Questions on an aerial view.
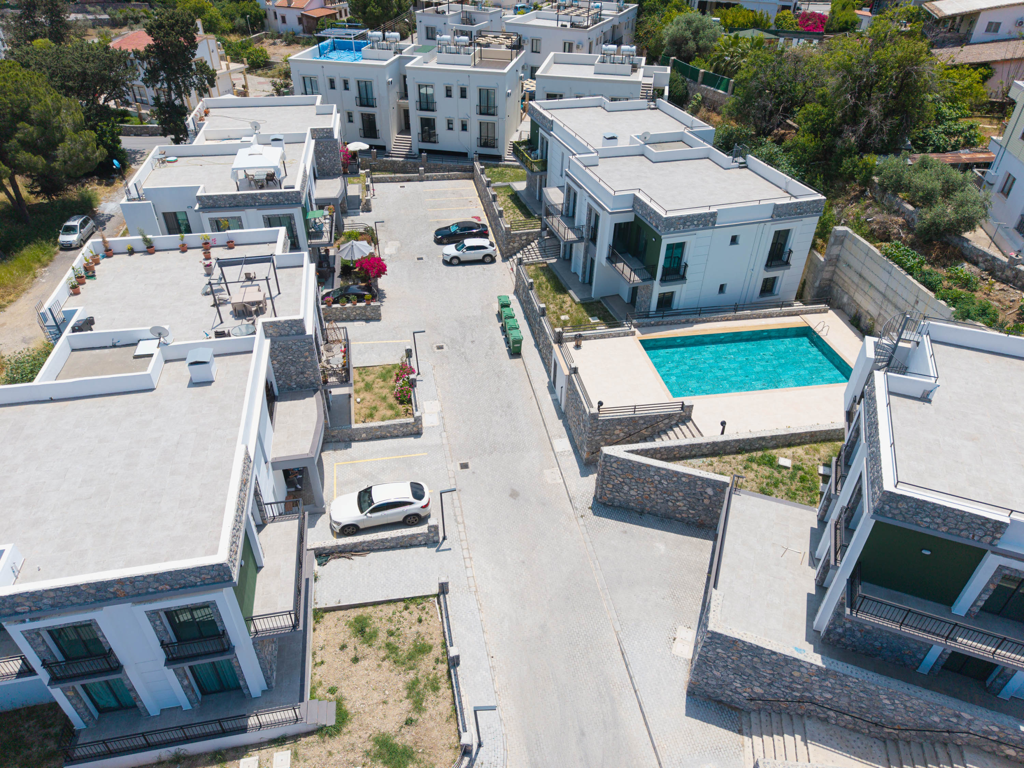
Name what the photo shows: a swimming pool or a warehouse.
swimming pool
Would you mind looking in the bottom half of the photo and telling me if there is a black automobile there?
No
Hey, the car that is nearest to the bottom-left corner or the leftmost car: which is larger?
the car that is nearest to the bottom-left corner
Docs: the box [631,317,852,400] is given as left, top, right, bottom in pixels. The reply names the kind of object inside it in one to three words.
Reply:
swimming pool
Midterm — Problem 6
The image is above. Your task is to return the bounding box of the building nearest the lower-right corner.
[817,322,1024,696]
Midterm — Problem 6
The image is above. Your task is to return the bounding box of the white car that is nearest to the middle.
[443,238,498,265]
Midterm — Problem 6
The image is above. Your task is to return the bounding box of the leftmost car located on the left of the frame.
[54,214,91,245]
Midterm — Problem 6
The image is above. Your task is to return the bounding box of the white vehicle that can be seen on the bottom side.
[328,480,432,533]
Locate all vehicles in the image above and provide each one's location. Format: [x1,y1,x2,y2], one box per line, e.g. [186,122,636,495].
[54,214,91,245]
[328,480,432,533]
[433,221,489,244]
[321,285,381,308]
[443,238,498,265]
